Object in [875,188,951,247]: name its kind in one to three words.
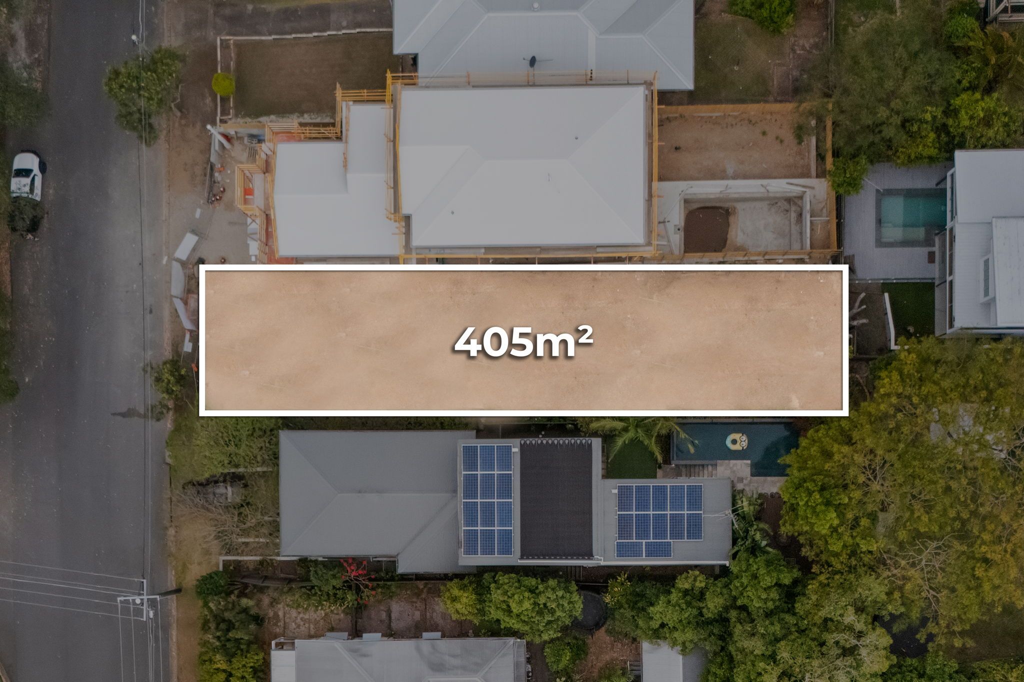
swimming pool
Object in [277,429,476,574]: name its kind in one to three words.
house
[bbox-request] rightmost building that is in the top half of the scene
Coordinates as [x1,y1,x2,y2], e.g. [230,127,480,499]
[935,149,1024,333]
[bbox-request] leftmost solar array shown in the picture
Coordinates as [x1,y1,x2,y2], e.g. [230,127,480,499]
[460,445,514,556]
